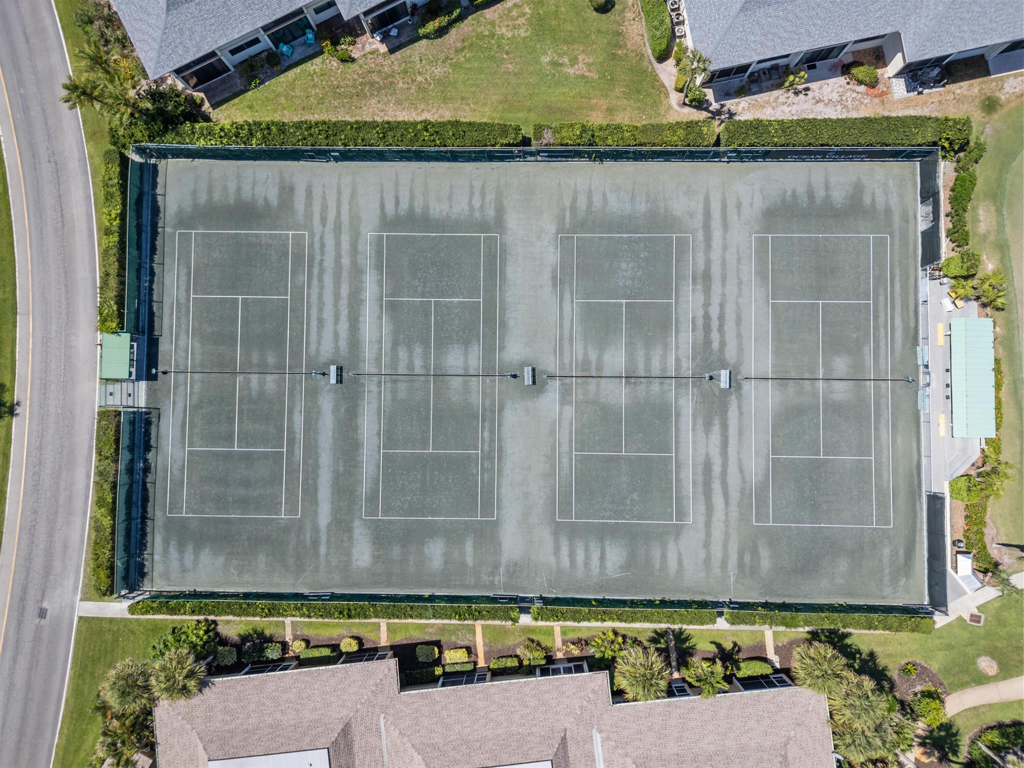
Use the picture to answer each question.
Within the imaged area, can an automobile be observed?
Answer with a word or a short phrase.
No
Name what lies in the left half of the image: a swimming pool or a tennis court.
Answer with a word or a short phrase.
tennis court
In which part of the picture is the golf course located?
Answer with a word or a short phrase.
right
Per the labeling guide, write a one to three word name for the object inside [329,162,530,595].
tennis court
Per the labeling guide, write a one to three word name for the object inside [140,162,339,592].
tennis court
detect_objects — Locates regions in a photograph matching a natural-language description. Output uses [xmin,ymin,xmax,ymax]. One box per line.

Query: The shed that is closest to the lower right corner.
[950,552,983,592]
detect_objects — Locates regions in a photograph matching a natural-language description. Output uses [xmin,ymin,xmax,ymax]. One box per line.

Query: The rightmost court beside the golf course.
[722,163,926,605]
